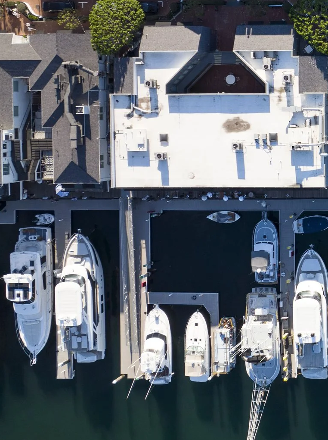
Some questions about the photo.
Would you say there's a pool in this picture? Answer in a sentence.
No, the frame has no pool in it.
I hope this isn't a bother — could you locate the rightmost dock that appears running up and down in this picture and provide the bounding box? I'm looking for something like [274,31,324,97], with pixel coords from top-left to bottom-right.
[280,211,304,380]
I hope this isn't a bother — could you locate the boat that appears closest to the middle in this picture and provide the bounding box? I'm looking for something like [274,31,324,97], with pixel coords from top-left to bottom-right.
[206,211,242,223]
